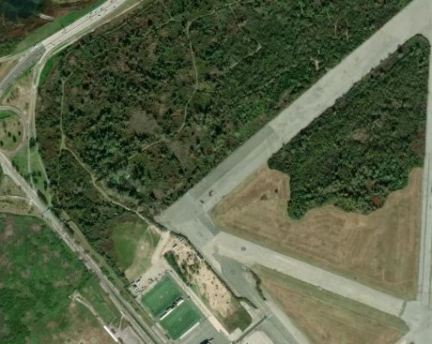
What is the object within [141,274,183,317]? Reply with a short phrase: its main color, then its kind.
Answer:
green soccer field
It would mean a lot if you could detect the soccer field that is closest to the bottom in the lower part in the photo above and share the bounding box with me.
[161,299,201,340]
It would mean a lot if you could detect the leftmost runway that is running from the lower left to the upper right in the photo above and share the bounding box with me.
[188,126,278,208]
